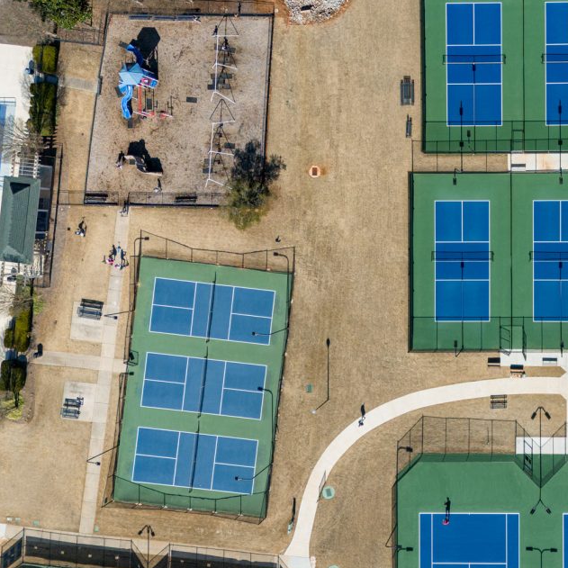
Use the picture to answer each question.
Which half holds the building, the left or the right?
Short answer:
left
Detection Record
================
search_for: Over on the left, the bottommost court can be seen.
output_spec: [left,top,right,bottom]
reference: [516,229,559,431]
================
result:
[113,417,272,517]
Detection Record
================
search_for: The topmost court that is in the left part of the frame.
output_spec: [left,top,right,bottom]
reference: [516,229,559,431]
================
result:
[133,257,291,355]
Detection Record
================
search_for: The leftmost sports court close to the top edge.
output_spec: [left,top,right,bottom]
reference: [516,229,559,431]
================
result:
[424,0,523,152]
